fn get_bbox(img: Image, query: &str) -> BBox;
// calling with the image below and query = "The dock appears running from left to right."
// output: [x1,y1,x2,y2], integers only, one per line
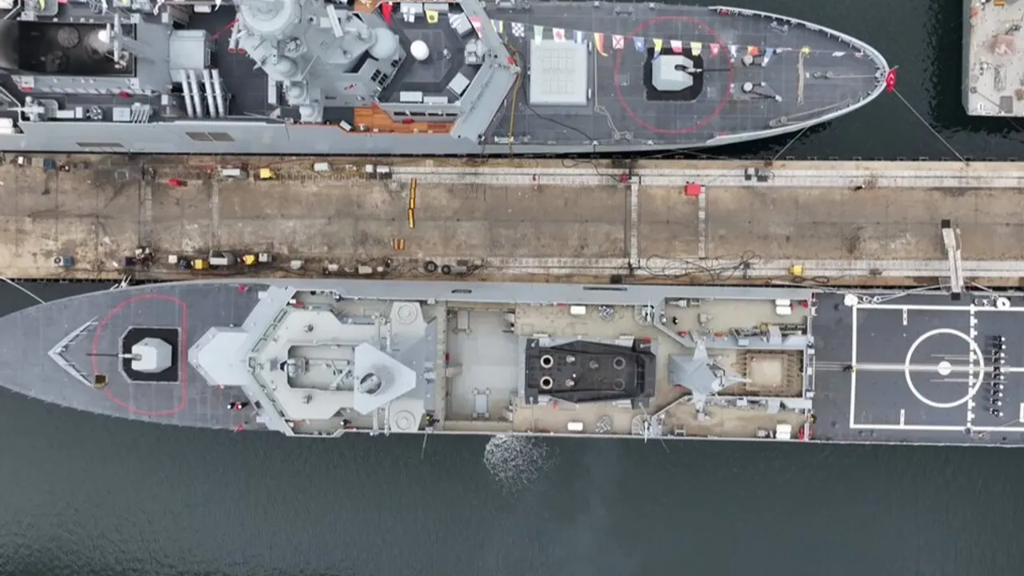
[0,151,1024,291]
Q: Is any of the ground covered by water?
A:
Yes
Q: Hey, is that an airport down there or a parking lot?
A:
parking lot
